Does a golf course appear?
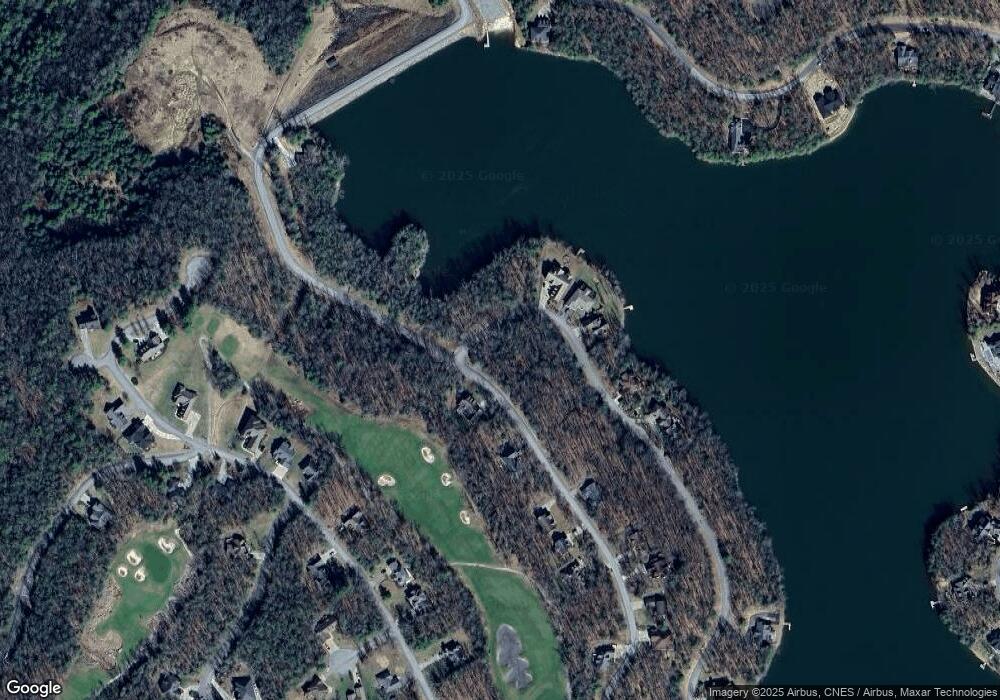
Yes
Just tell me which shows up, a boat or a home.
home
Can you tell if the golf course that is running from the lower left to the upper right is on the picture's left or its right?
left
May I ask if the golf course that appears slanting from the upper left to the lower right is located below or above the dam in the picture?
below it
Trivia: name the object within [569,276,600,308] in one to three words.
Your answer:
house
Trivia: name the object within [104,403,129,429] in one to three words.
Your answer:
house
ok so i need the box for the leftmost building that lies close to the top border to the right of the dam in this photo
[531,26,551,47]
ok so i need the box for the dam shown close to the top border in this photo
[262,0,481,144]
